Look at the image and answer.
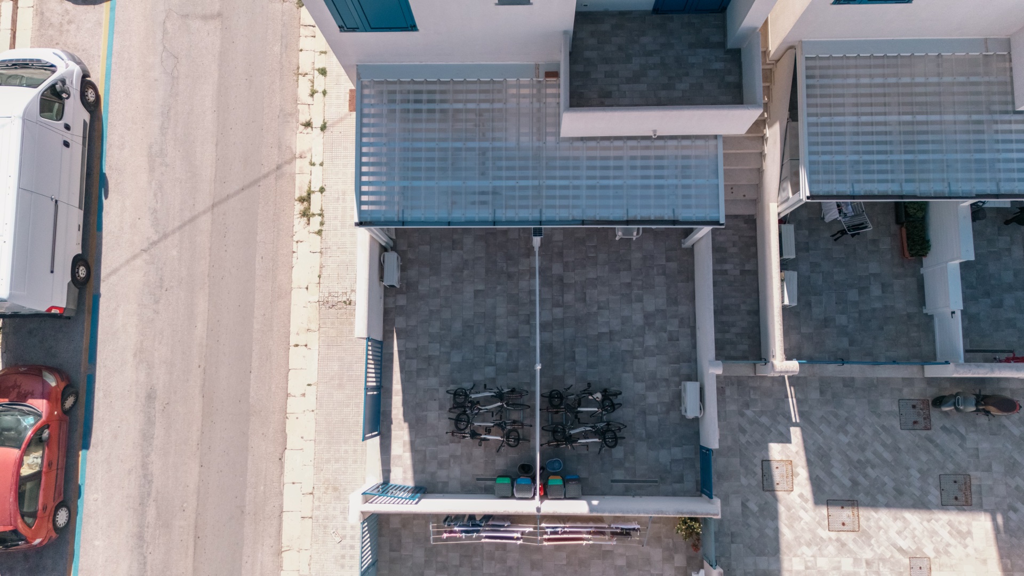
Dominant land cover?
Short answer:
paved ground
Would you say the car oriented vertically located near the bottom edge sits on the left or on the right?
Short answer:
left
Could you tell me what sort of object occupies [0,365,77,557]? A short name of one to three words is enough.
car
